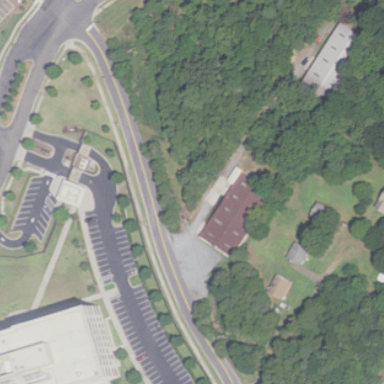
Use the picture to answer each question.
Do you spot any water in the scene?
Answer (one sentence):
No, water can't be seen anywhere here.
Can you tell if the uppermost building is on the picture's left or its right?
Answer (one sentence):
It is on the right.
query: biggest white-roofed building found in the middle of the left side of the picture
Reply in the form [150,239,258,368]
[56,180,89,207]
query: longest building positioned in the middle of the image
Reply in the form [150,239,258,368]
[199,172,261,256]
